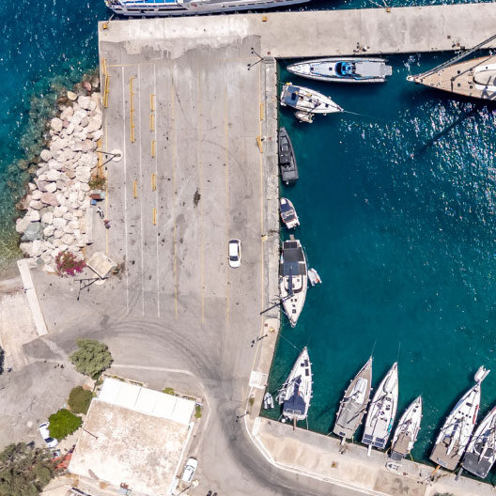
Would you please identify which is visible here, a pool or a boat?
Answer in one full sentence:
This aerial view contains a boat.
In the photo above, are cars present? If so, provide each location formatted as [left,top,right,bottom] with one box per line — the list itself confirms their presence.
[35,420,59,448]
[180,455,199,484]
[227,239,240,266]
